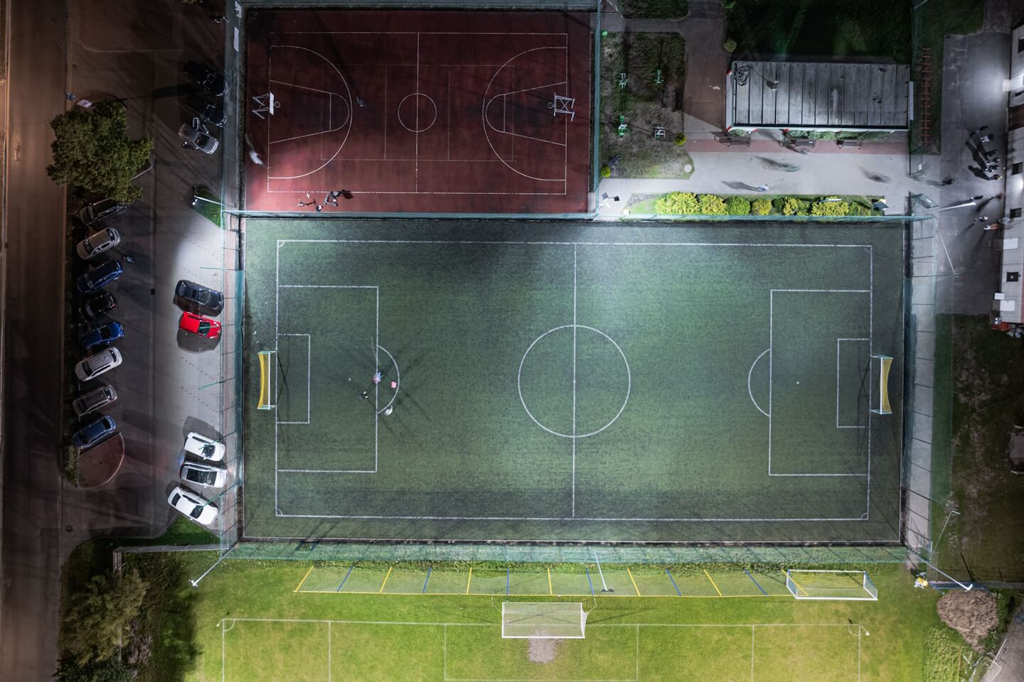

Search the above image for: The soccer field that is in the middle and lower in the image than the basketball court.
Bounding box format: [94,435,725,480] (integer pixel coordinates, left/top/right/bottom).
[242,219,905,545]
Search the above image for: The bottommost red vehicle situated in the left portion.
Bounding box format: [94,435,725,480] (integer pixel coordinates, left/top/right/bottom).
[180,313,223,339]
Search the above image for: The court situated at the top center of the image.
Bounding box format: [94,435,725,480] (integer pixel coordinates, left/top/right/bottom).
[245,10,593,213]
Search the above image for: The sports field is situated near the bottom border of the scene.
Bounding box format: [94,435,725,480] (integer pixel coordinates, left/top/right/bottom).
[213,611,917,682]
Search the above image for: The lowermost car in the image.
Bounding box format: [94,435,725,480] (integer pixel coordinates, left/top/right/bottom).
[169,487,220,523]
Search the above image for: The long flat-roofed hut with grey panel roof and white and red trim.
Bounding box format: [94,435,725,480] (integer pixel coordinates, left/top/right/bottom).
[724,60,912,131]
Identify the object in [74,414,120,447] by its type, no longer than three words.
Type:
car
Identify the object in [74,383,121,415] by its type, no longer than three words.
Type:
car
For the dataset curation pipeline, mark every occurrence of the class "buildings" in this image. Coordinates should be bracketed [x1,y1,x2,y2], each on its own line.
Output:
[724,60,912,131]
[1000,23,1024,327]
